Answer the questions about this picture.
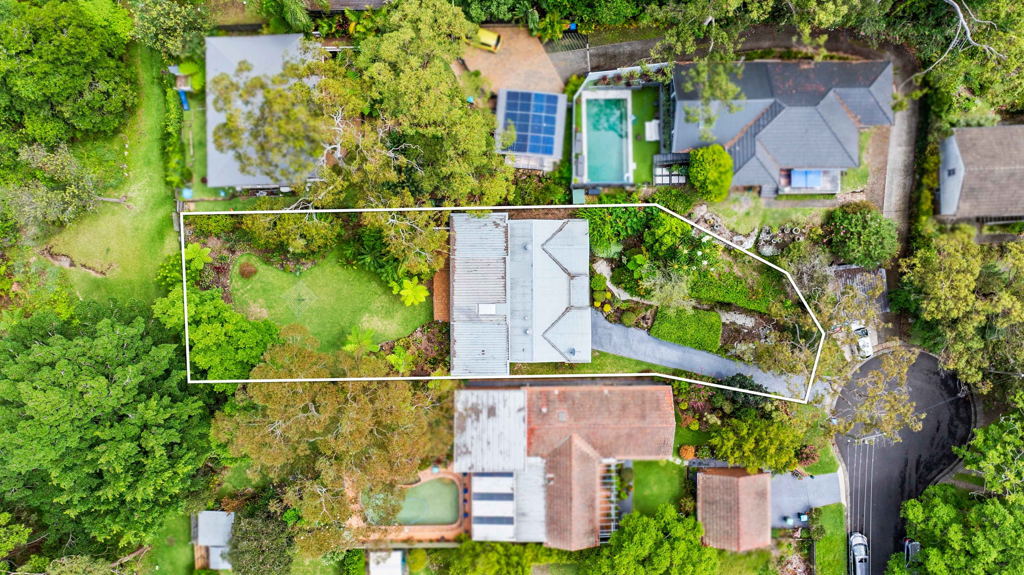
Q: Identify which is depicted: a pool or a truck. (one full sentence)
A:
There is a pool in the scene.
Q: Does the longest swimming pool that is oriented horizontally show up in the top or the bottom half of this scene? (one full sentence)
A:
It is in the bottom half that the longest swimming pool that is oriented horizontally appears.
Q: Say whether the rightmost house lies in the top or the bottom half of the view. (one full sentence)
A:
The top half of the photo is where the rightmost house is.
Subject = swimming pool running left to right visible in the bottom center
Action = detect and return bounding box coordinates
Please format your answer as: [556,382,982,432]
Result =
[358,476,461,528]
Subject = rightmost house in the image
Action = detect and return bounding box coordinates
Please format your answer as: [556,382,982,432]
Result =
[936,126,1024,221]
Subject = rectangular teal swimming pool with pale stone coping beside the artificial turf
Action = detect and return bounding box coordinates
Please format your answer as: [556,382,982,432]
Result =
[584,96,635,184]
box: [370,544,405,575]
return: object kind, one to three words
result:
shed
